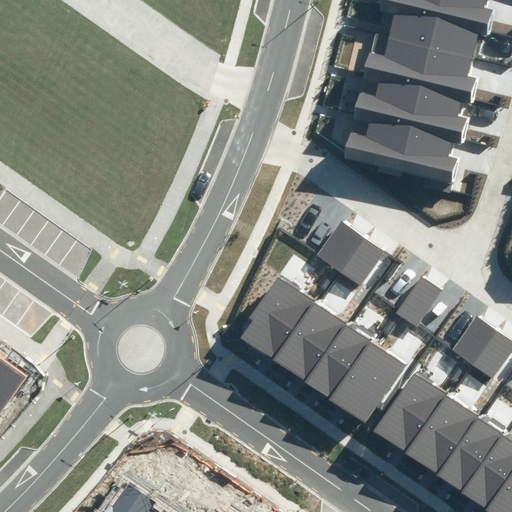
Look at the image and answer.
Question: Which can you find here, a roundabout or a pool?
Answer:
roundabout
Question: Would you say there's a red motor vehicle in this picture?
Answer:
No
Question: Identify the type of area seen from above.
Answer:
residential area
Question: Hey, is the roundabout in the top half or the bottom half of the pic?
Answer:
bottom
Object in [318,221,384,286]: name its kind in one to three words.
building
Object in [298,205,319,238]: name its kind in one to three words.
car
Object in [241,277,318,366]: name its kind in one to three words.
house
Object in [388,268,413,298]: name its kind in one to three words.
car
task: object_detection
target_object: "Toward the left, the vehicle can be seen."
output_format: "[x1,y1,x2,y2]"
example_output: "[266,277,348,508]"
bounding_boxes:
[190,172,211,202]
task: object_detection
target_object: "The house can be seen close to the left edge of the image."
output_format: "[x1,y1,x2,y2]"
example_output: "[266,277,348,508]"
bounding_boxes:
[0,358,30,416]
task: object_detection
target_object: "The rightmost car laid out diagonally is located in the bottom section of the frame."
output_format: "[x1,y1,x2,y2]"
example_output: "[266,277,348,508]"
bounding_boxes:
[444,311,470,343]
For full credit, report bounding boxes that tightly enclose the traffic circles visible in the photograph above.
[90,297,192,401]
